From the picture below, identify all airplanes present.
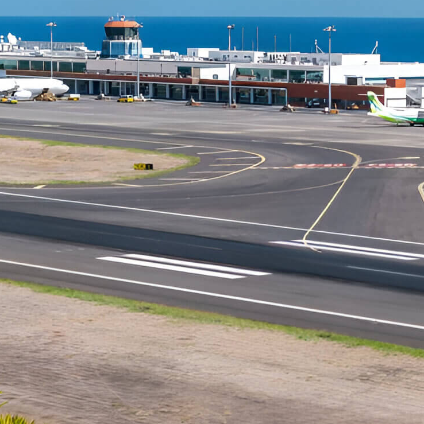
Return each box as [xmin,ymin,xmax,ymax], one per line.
[356,89,424,126]
[0,79,74,101]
